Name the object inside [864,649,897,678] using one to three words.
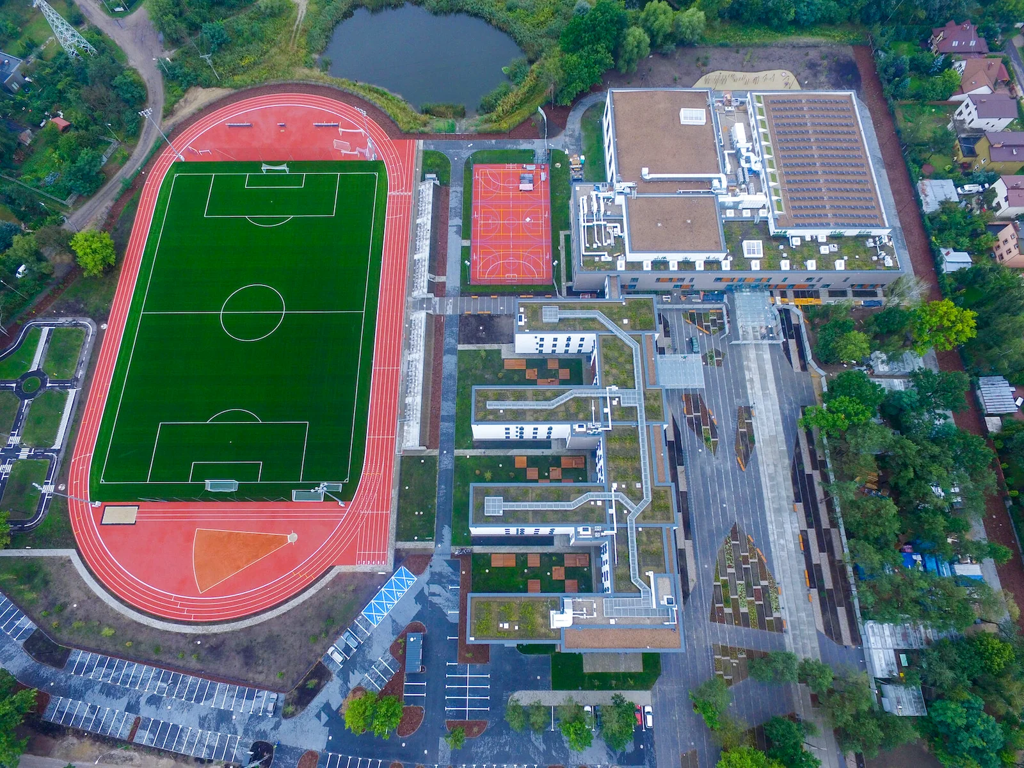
shed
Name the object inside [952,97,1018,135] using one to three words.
house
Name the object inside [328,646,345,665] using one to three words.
car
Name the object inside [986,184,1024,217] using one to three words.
house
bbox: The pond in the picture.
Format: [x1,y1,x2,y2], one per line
[320,3,525,117]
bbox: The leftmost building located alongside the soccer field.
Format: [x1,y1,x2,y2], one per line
[466,298,687,653]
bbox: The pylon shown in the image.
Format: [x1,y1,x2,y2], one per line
[32,0,94,60]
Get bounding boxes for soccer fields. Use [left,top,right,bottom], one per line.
[97,161,378,501]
